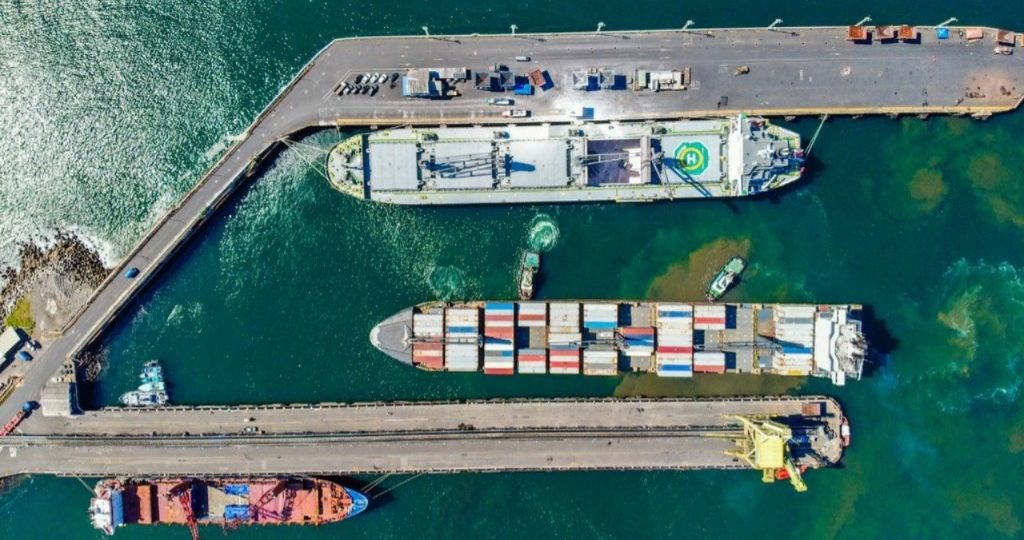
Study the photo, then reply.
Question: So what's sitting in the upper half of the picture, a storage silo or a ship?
ship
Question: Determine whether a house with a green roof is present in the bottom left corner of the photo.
No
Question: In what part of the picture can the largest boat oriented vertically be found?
center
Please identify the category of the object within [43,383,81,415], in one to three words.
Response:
house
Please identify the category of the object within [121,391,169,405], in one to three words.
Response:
boat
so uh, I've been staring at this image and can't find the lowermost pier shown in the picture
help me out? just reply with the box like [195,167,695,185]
[0,393,846,478]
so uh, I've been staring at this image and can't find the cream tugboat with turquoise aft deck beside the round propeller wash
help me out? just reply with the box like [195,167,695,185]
[518,249,541,299]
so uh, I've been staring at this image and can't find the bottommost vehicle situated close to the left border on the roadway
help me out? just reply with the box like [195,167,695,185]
[0,402,33,435]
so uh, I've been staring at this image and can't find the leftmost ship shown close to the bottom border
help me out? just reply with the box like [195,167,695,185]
[87,475,369,540]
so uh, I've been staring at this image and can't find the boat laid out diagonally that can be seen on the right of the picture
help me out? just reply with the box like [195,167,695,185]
[704,252,750,302]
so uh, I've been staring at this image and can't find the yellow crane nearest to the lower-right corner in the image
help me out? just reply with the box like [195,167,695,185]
[701,411,809,491]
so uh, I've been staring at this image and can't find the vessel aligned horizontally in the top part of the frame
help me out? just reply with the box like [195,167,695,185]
[328,113,805,206]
